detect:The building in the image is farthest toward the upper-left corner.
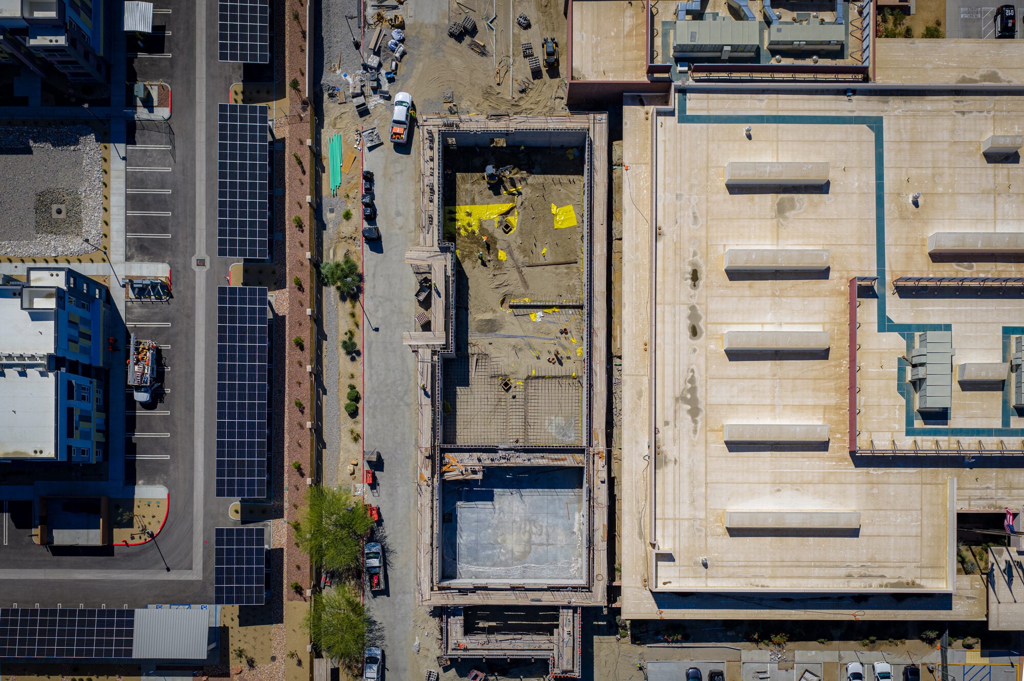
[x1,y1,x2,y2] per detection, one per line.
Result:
[0,0,106,89]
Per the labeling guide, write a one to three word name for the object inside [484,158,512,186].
work vehicle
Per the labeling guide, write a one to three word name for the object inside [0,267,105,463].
building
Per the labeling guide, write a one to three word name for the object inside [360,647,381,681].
truck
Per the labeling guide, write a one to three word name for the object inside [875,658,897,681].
car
